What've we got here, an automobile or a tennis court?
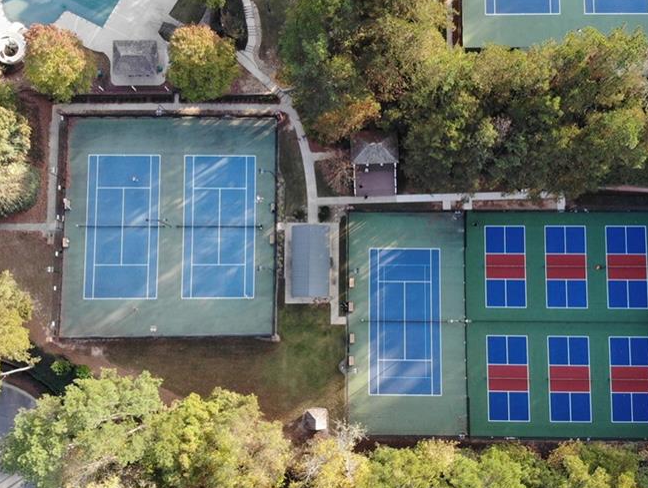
tennis court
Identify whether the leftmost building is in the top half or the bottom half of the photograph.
top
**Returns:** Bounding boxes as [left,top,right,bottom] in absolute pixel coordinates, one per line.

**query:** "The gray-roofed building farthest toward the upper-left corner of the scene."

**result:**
[111,40,159,81]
